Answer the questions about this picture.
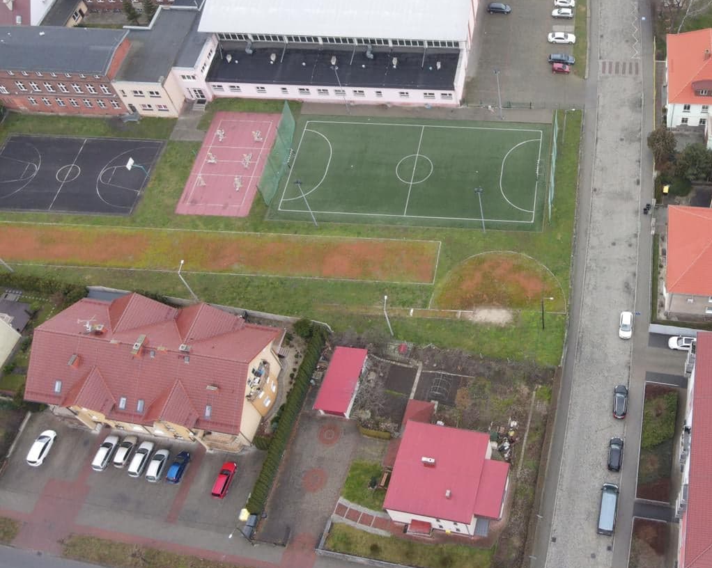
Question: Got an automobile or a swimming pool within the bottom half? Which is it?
automobile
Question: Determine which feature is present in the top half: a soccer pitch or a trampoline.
soccer pitch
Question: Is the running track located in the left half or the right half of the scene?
left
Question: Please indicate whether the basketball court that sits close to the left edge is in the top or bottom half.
top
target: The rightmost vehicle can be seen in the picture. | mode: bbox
[668,334,692,351]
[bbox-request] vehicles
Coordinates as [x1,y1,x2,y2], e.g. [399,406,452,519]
[554,0,575,7]
[548,52,574,64]
[23,432,59,466]
[107,434,142,469]
[161,450,195,485]
[668,334,692,351]
[606,434,625,472]
[139,448,174,483]
[619,310,634,339]
[552,7,574,18]
[122,441,159,479]
[549,32,575,44]
[612,383,629,418]
[85,434,124,472]
[551,62,574,74]
[205,460,242,501]
[599,483,618,532]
